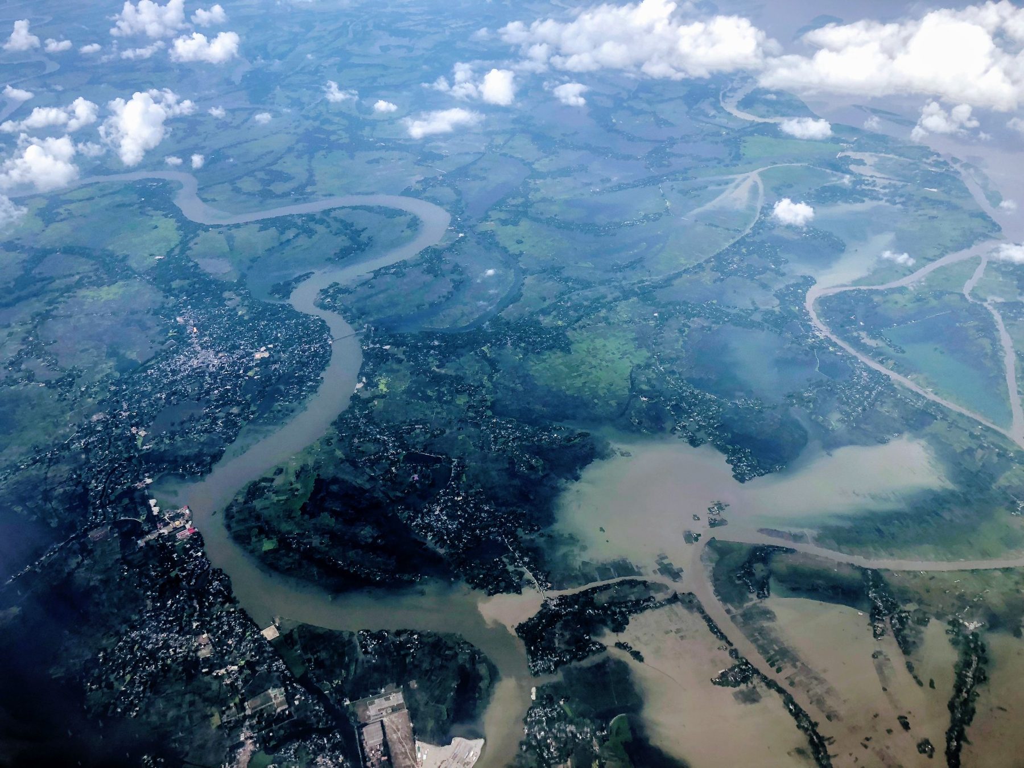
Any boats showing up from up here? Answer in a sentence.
No, there appears to be no boat in this shot.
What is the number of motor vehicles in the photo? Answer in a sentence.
The photo contains no motor vehicles.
